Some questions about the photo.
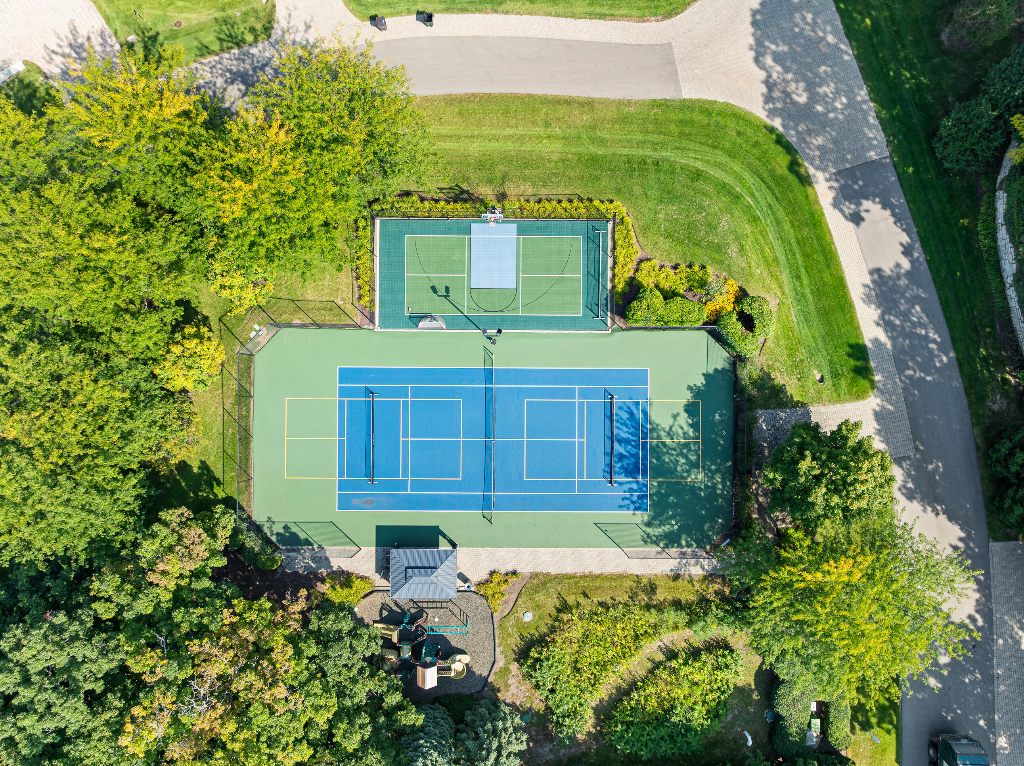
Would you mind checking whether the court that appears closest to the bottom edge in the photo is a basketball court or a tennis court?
tennis court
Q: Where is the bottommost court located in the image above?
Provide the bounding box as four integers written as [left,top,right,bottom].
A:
[253,330,734,549]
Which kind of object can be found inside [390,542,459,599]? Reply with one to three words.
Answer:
building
